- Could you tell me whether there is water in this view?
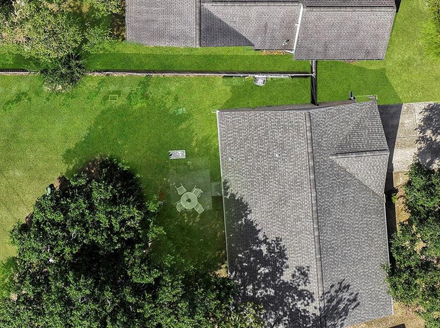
No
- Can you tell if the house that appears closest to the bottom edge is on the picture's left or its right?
right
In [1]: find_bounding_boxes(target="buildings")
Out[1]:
[123,0,397,62]
[211,97,395,328]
